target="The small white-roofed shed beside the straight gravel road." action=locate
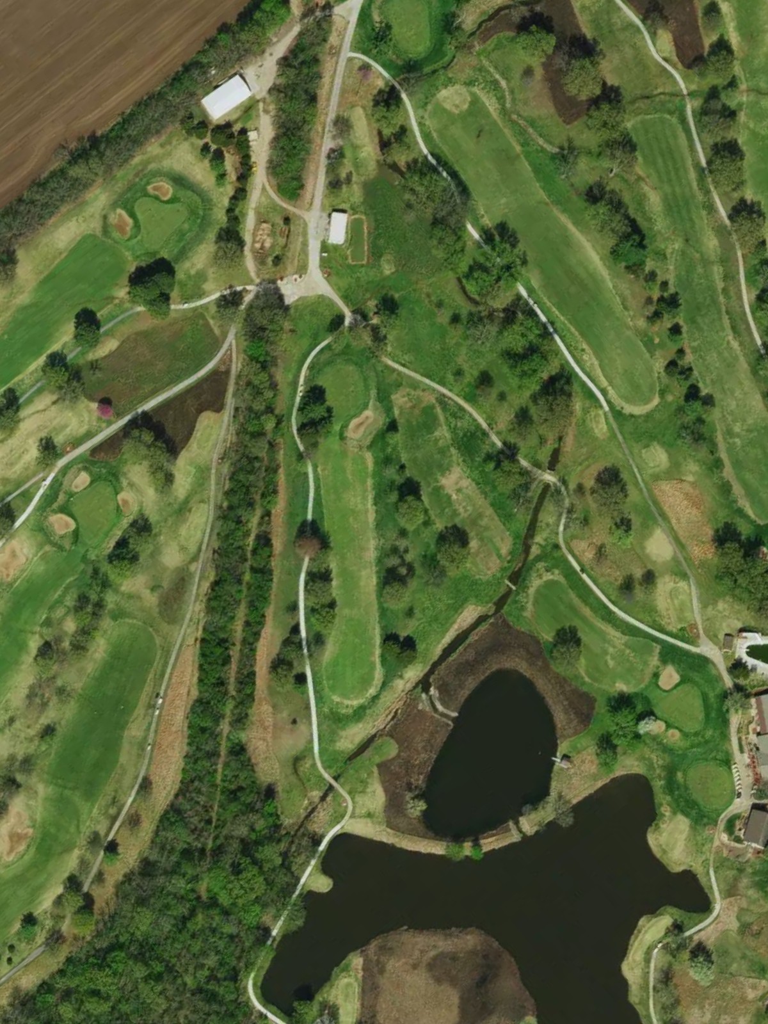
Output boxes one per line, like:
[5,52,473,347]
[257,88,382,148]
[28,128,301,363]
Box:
[329,212,347,243]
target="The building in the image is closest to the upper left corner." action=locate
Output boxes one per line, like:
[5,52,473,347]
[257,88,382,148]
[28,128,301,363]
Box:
[202,74,251,119]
